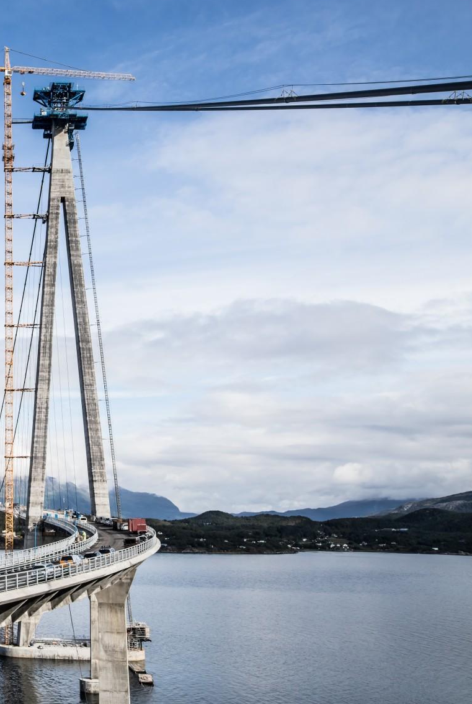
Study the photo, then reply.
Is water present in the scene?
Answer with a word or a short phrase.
Yes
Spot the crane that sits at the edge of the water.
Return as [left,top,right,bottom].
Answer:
[0,51,138,645]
